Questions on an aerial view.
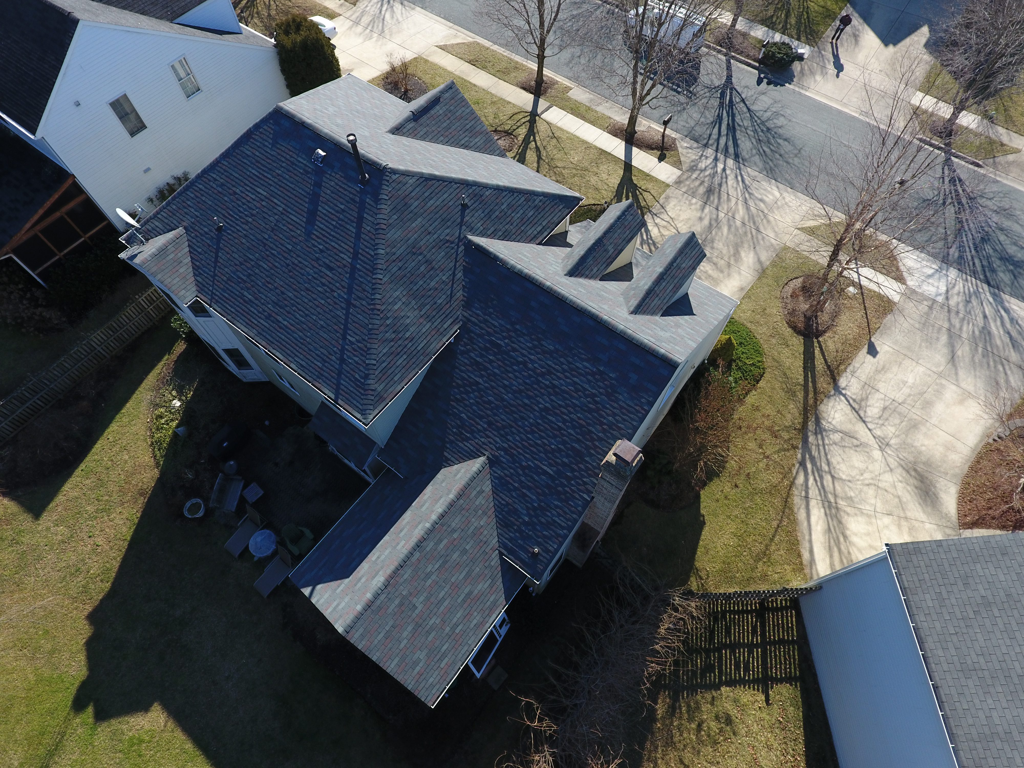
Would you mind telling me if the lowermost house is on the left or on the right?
right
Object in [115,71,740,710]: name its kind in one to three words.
house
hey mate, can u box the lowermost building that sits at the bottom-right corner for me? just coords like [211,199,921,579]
[796,534,1024,768]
